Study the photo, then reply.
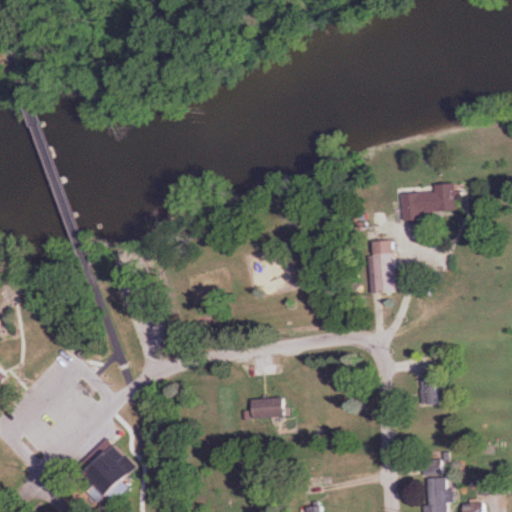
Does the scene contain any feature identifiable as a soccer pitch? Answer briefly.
No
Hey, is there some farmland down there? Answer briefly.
No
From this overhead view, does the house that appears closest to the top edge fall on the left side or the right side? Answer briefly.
right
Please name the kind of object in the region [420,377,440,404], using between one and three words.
house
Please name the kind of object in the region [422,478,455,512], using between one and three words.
house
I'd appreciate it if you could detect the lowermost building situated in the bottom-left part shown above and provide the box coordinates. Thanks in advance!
[80,438,136,502]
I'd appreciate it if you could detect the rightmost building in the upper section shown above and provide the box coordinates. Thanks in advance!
[400,183,461,221]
